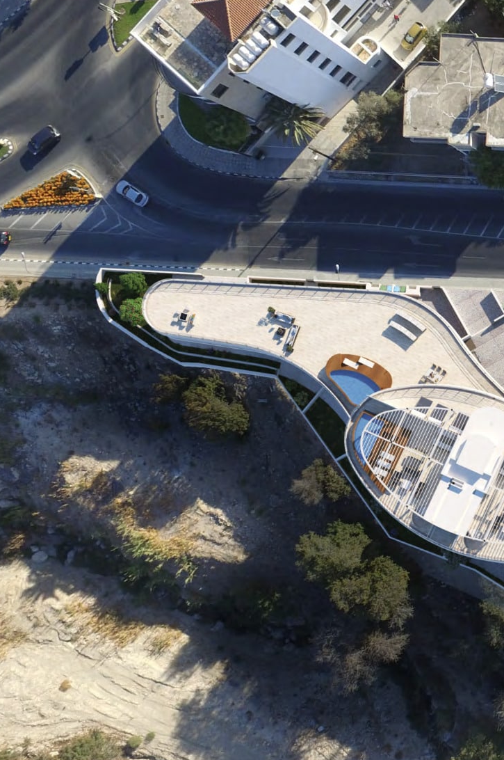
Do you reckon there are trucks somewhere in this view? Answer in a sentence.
No, there is no truck in the image.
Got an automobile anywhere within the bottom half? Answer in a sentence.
No, the scene shows no automobile within the bottom half.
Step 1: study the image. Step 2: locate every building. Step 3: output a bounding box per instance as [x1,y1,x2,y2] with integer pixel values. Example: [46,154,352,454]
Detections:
[142,278,504,564]
[129,0,417,132]
[404,34,504,155]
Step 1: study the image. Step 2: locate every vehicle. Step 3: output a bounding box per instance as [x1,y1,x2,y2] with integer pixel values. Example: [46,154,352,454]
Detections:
[403,20,426,52]
[0,232,10,244]
[115,179,149,208]
[28,125,61,154]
